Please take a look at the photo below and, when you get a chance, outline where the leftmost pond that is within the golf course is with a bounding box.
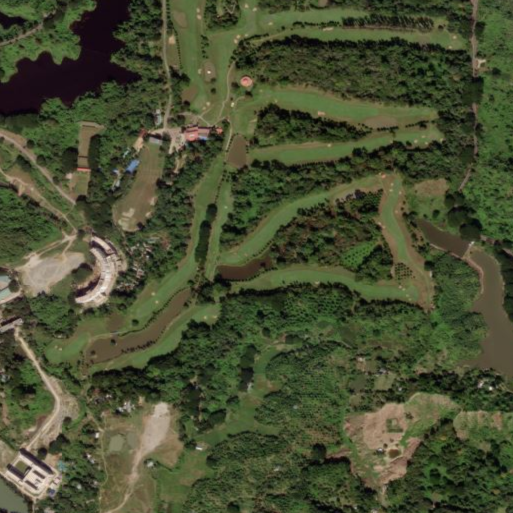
[85,288,193,363]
